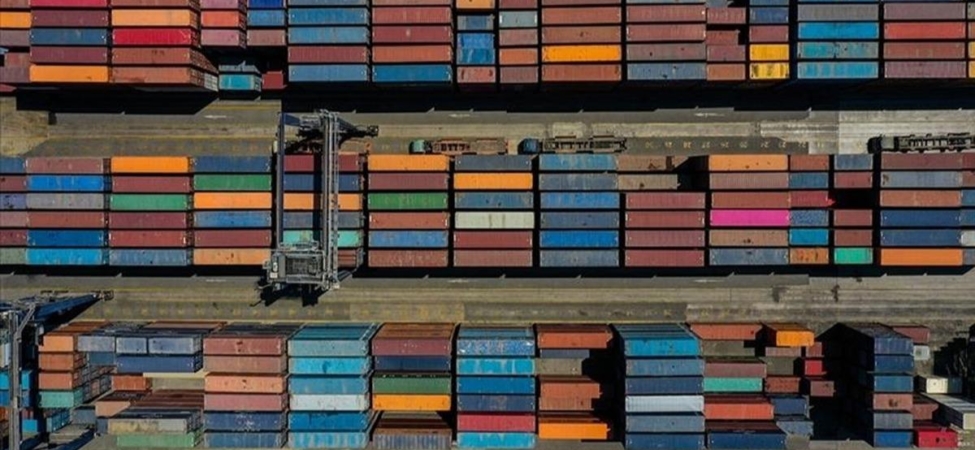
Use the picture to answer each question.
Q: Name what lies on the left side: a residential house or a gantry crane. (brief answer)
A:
gantry crane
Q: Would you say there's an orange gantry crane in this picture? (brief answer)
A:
No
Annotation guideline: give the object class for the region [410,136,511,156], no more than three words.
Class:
vehicle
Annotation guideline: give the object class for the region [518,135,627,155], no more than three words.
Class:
vehicle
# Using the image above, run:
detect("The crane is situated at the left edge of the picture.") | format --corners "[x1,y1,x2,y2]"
[0,290,107,450]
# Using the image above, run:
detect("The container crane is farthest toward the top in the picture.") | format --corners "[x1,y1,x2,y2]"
[267,108,382,293]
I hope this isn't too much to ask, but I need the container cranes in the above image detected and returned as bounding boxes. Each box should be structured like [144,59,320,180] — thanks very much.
[0,290,107,450]
[267,108,382,293]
